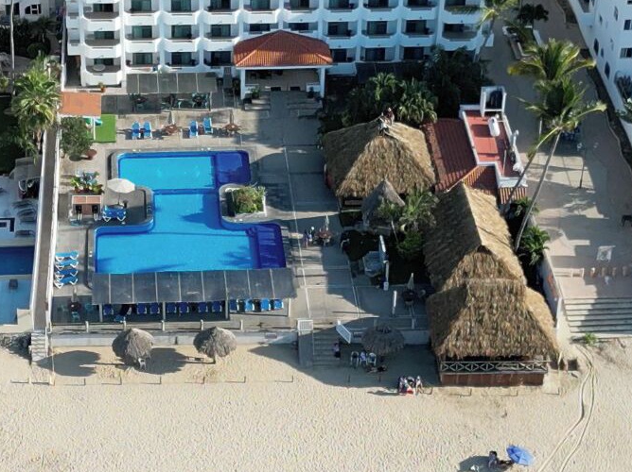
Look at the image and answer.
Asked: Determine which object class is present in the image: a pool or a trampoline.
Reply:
pool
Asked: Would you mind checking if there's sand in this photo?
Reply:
Yes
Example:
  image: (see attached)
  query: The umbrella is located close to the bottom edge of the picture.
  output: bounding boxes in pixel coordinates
[504,446,528,472]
